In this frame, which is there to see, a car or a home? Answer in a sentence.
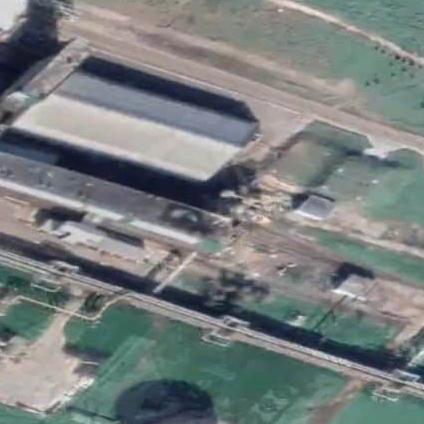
It is a home that can be seen here.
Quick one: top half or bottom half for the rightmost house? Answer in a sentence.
The rightmost house sits in the bottom half of the picture.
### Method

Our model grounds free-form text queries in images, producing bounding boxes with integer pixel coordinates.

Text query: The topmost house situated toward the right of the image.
[295,195,336,220]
